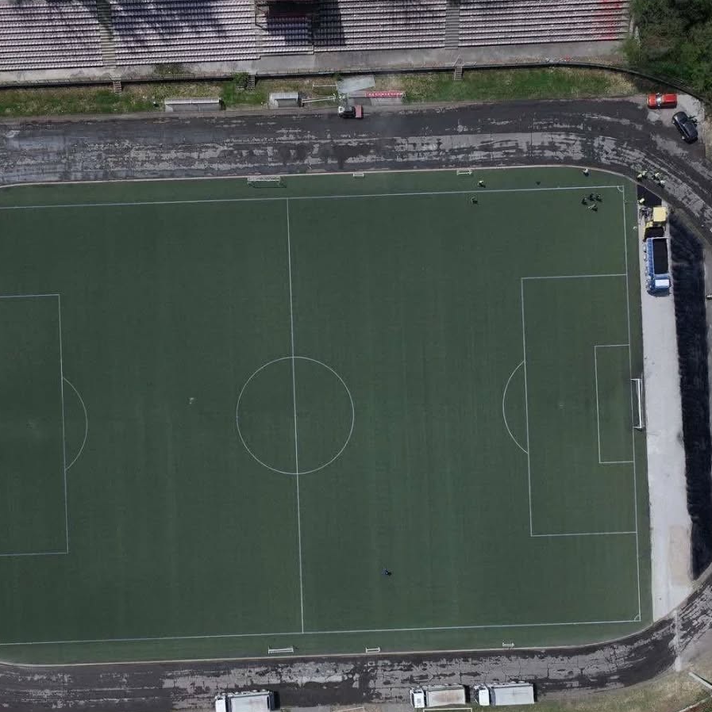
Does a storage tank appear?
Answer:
No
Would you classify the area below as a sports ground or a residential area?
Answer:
sports ground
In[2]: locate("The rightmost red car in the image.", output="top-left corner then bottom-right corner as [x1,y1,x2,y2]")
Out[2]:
[644,94,676,109]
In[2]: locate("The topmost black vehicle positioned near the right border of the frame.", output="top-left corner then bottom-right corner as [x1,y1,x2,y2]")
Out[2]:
[674,114,696,144]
